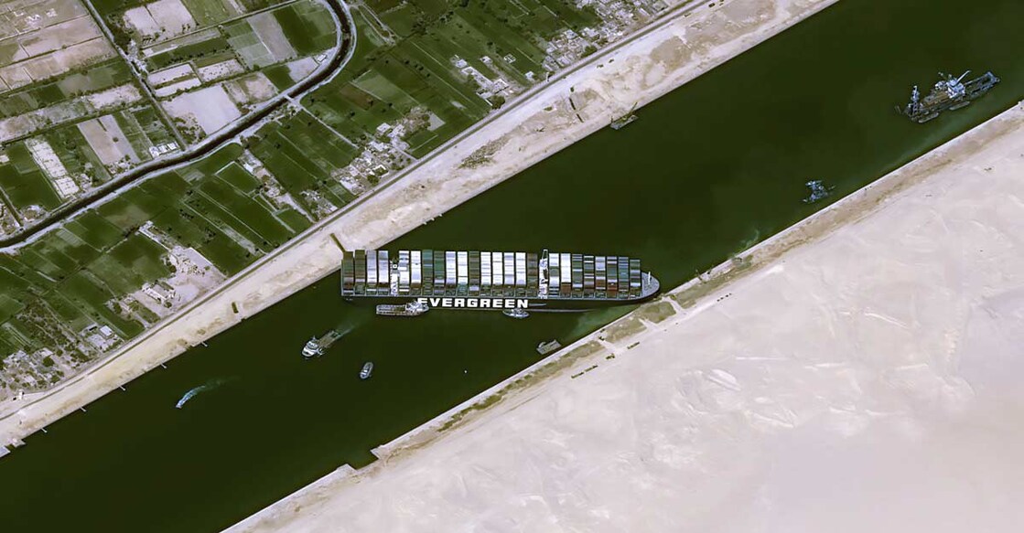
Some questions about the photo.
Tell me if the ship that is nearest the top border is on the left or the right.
right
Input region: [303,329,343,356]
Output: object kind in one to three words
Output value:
ship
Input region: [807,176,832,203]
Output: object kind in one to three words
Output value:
ship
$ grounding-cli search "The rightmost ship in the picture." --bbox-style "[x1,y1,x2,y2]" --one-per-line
[906,68,1000,118]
